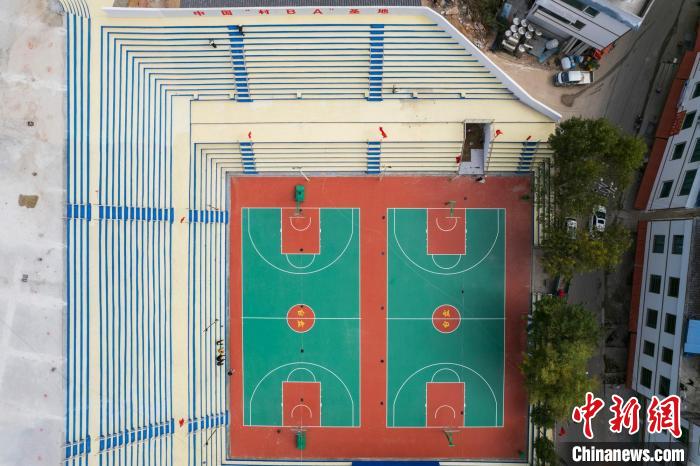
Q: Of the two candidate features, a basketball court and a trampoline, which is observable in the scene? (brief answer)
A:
basketball court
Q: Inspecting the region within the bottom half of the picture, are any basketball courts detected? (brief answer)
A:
Yes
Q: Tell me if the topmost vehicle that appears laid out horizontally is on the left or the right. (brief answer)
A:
right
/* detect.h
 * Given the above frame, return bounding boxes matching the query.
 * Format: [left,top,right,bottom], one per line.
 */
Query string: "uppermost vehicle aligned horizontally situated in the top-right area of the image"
[550,68,594,88]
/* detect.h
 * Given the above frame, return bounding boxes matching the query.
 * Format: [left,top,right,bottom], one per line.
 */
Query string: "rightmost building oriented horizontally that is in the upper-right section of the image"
[526,0,656,55]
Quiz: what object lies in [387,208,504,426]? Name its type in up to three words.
basketball court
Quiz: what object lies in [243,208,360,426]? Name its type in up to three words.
basketball court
